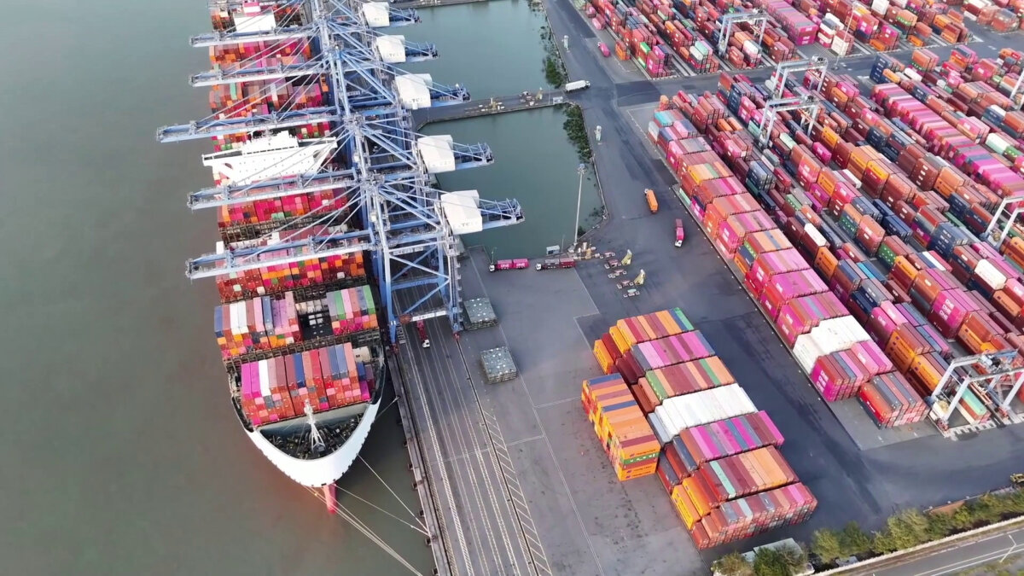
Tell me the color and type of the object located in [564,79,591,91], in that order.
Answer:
white vehicle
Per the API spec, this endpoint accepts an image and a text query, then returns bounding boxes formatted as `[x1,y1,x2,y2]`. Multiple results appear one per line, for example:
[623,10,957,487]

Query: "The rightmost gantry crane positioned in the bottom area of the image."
[922,338,1024,434]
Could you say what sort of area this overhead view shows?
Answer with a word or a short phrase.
port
